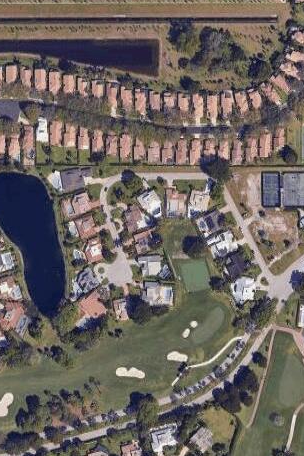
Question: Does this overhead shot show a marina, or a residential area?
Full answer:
This image shows a residential area.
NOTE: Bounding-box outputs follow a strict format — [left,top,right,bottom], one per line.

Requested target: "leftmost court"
[263,173,280,206]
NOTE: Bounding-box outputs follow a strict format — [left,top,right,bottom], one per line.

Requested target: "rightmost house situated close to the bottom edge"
[188,425,215,452]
